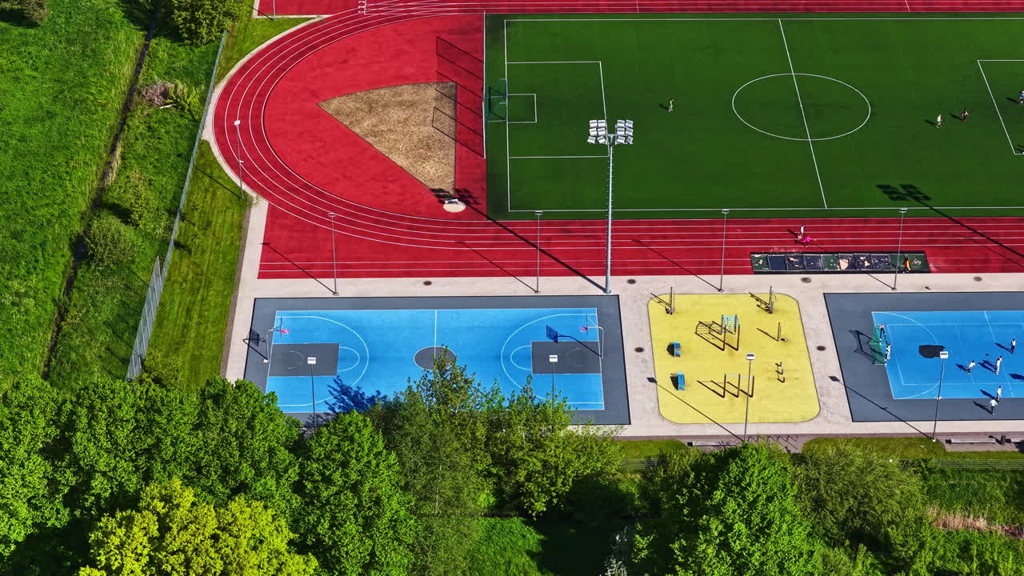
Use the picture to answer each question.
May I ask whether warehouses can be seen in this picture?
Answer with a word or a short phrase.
No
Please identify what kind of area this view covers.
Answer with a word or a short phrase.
sports ground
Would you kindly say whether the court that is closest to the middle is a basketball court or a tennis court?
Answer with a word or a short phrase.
basketball court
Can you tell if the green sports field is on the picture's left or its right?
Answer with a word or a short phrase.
right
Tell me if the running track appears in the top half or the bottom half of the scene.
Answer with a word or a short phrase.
top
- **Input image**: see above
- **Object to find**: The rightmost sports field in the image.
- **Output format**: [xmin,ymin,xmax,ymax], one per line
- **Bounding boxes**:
[485,11,1024,220]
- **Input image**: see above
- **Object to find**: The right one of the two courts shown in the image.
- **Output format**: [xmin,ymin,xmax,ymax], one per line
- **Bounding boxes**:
[822,291,1024,423]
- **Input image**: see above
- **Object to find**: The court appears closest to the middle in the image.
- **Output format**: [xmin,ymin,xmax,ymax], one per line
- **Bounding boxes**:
[242,294,633,427]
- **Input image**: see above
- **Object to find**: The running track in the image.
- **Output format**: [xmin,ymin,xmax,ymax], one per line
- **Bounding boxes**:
[212,0,1024,278]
